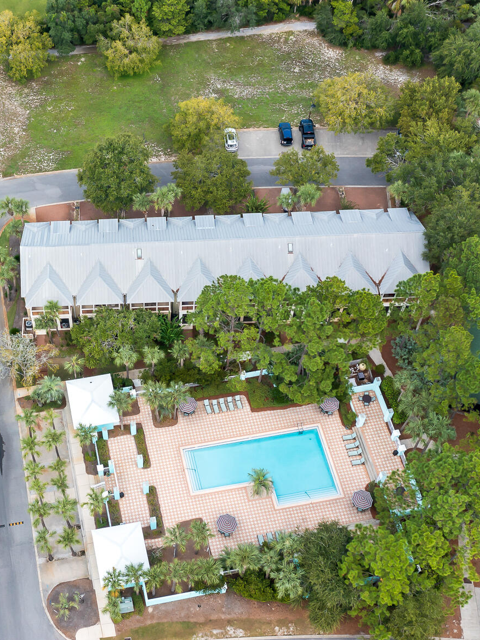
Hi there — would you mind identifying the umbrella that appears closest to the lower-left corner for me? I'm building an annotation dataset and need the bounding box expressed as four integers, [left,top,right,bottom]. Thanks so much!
[216,513,239,535]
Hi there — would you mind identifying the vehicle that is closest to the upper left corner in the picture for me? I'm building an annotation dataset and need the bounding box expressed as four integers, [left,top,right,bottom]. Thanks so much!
[224,130,239,152]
